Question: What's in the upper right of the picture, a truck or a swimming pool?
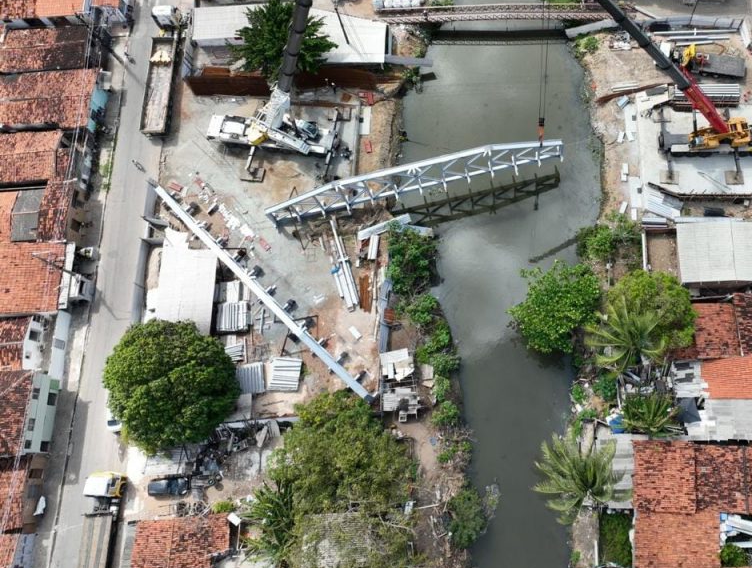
truck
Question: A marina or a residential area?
residential area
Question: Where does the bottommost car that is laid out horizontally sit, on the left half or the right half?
left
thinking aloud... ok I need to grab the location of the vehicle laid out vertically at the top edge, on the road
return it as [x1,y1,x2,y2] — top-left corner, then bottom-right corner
[135,3,176,133]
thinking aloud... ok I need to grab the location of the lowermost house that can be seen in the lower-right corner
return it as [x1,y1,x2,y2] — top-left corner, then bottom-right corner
[635,513,721,568]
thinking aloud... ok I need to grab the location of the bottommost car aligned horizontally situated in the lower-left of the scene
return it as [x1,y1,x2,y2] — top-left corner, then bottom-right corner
[147,476,190,497]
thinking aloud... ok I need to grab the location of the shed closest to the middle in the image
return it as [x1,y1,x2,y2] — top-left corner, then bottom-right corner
[379,349,414,381]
